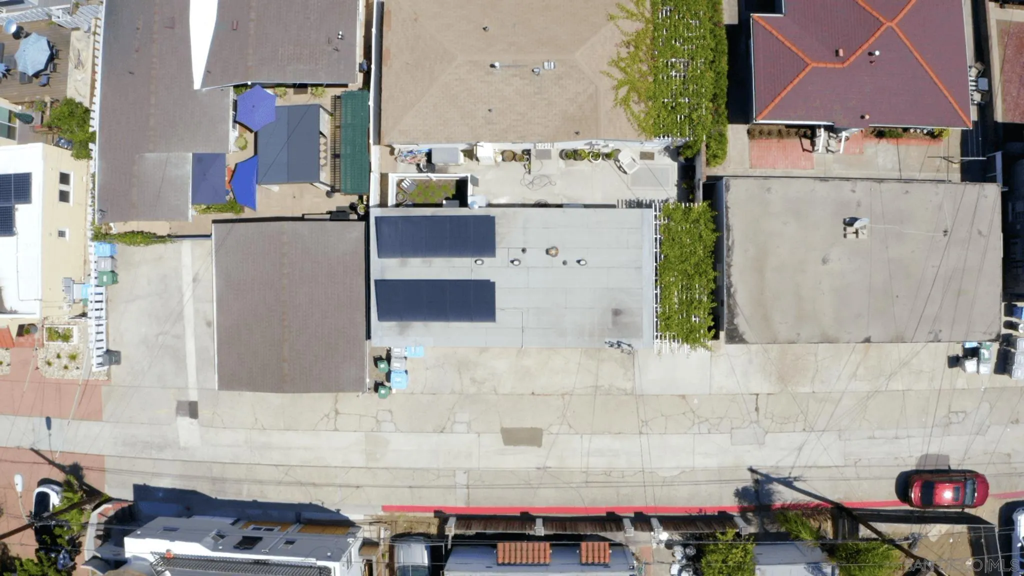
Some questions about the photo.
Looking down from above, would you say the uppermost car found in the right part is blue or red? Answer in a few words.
red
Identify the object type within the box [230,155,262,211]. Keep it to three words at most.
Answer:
umbrella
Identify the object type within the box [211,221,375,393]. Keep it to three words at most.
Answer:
building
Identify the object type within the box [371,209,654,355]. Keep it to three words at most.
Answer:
building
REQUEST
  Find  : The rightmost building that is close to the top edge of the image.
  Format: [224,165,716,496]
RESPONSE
[743,0,974,130]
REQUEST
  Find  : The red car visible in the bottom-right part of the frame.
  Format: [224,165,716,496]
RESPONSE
[903,470,989,514]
